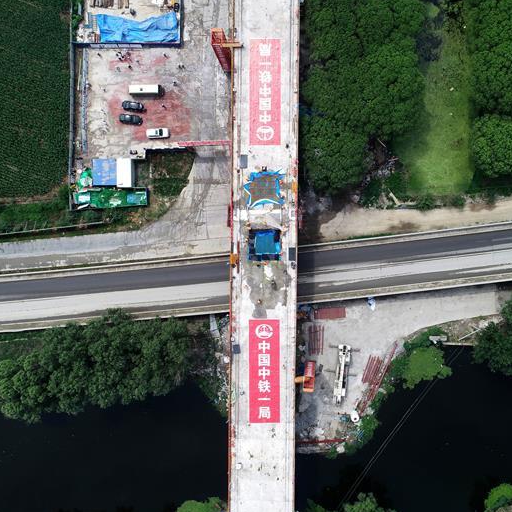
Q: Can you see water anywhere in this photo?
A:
Yes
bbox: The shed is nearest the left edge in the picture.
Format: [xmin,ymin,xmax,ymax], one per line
[92,159,117,188]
